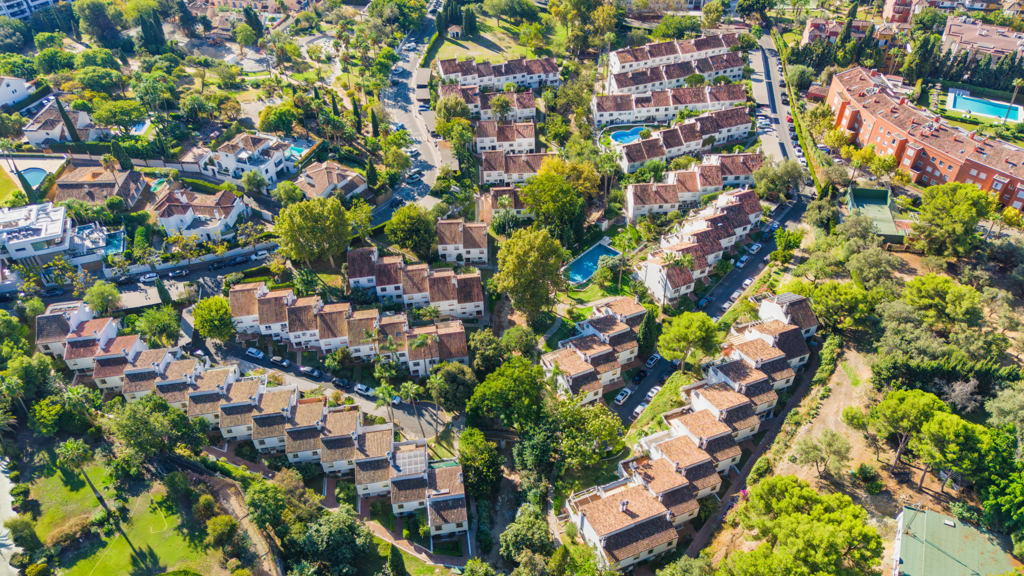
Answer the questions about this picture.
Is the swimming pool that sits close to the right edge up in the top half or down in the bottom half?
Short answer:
top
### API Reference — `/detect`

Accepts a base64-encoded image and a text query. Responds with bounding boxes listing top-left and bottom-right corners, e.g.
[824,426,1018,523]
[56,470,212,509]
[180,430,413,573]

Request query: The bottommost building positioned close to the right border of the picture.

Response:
[889,506,1024,576]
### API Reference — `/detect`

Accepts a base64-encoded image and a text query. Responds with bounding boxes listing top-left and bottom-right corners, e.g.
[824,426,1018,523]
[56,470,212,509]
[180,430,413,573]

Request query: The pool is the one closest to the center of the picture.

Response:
[565,241,622,283]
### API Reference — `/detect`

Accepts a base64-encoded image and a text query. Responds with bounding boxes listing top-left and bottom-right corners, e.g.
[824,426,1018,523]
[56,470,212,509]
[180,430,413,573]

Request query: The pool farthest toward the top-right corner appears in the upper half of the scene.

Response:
[949,93,1022,121]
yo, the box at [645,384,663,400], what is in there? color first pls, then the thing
white car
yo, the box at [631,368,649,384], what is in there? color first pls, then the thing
black car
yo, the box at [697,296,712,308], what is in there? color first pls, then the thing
blue vehicle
